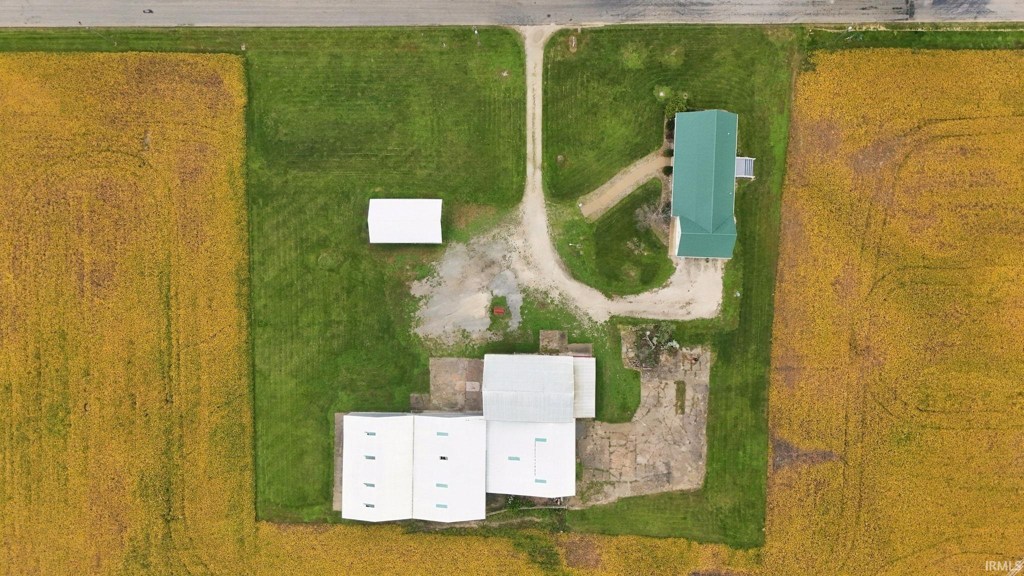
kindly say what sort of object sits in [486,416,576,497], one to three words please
barn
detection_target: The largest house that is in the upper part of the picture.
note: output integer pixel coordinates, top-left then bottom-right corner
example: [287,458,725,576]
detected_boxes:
[670,109,738,260]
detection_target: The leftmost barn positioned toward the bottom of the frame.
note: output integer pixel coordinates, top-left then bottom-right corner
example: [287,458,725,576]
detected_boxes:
[342,412,486,522]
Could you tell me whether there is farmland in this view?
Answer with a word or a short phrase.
Yes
